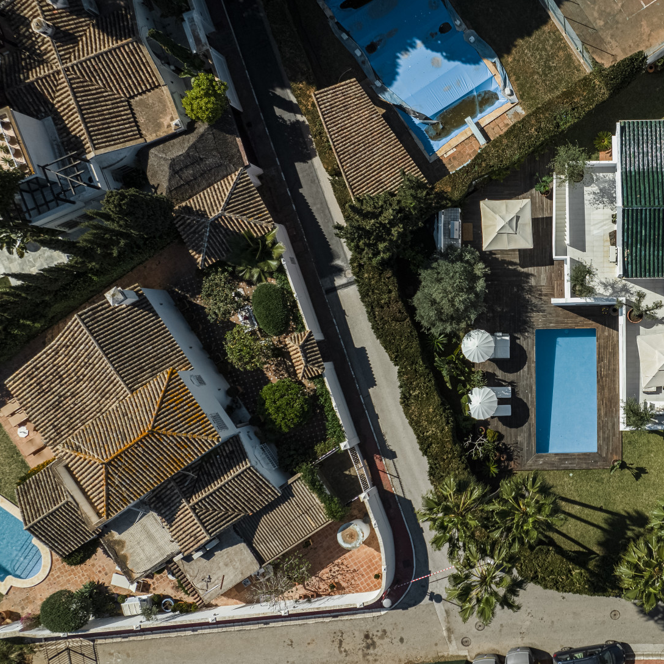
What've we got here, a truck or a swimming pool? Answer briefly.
swimming pool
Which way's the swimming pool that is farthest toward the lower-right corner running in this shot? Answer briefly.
vertically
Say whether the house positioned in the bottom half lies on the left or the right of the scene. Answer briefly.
left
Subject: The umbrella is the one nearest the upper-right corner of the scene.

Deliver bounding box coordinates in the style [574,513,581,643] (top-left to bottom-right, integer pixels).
[481,199,533,251]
